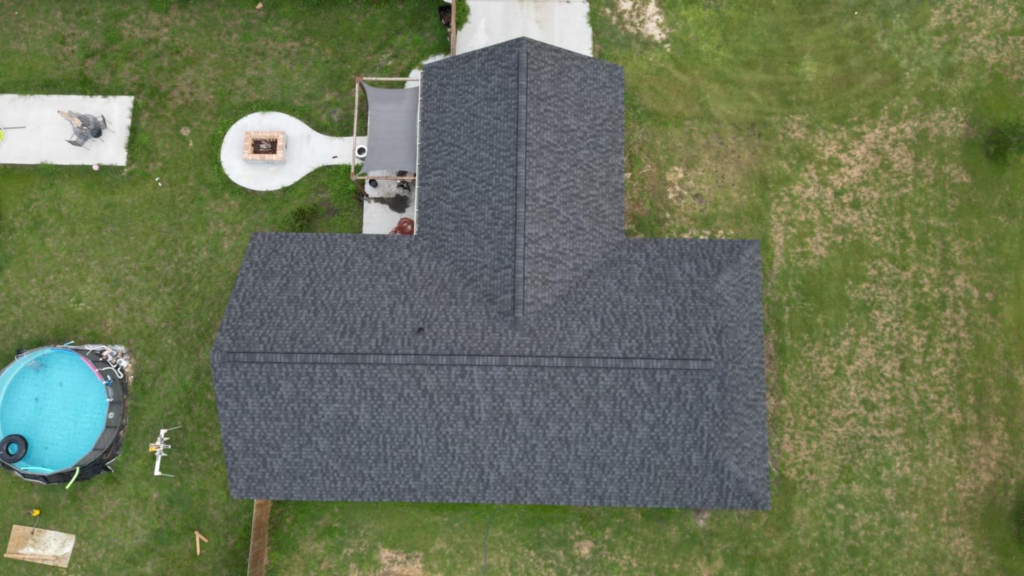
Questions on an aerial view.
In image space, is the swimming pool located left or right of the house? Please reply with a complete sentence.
Relative to the house, the swimming pool is on the left.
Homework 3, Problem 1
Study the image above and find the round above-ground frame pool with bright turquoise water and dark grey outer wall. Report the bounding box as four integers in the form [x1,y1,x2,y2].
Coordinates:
[0,347,126,476]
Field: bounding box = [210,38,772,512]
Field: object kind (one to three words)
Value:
house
